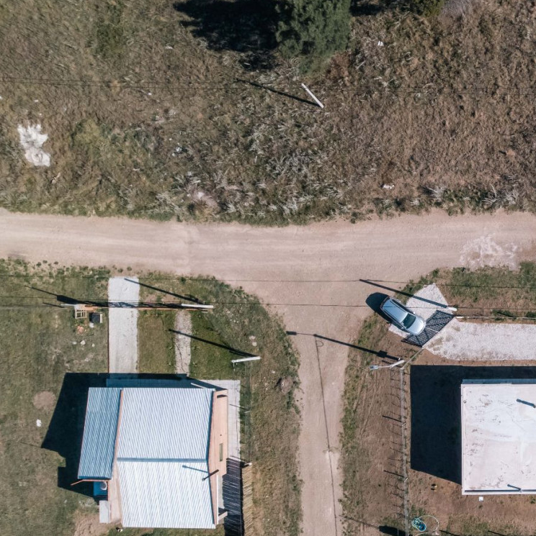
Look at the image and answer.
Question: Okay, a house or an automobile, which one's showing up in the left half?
house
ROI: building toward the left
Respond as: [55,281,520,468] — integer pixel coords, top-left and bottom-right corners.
[66,380,241,533]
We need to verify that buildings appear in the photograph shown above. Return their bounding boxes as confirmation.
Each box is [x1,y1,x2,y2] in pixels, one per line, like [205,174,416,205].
[462,377,536,494]
[66,380,241,533]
